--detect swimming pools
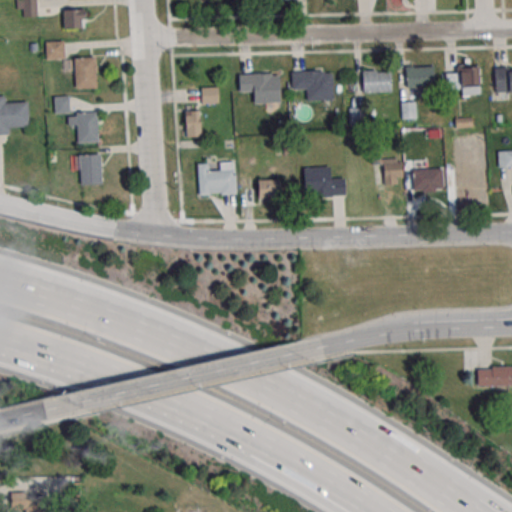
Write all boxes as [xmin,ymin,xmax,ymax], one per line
[292,104,313,122]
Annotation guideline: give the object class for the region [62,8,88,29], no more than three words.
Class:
house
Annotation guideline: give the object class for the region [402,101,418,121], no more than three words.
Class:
building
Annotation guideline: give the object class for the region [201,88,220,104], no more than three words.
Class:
building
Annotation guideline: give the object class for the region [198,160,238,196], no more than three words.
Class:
house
